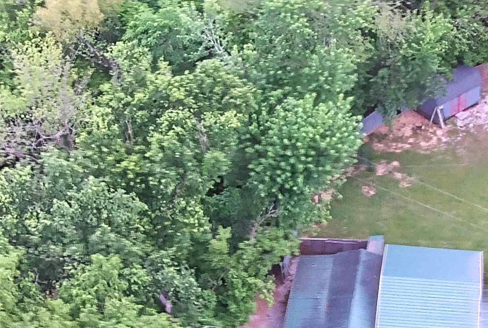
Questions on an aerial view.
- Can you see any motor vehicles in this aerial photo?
No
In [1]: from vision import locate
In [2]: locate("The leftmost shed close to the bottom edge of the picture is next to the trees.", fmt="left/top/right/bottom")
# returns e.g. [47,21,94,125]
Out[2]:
[285,248,382,328]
